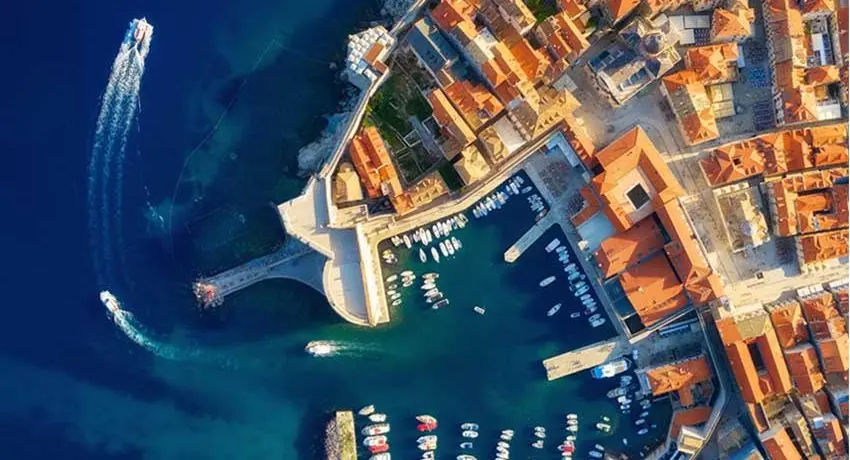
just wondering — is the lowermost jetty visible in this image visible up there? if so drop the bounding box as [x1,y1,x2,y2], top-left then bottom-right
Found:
[336,410,357,460]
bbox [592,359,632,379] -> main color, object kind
white boat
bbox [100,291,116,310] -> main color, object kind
white boat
